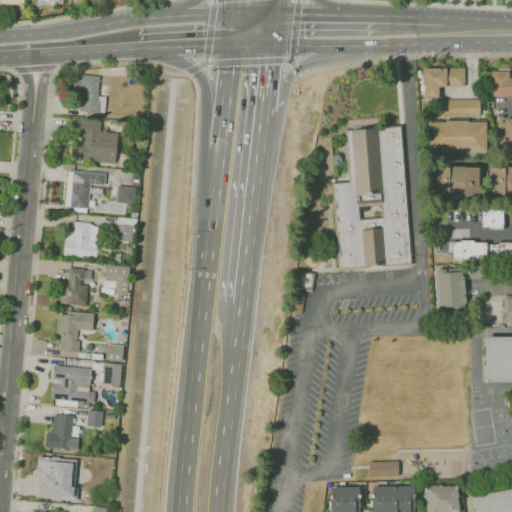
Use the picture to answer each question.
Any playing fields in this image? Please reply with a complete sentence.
Yes, you can see a playing field in this photo.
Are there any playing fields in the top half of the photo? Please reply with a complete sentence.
No, the scene shows no playing field in the top half of the photo.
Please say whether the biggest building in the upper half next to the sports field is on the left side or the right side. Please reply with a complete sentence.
It is on the right.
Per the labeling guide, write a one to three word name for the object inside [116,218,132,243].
house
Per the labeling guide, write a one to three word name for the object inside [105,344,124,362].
building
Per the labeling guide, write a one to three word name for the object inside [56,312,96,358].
house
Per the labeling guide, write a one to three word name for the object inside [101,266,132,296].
shed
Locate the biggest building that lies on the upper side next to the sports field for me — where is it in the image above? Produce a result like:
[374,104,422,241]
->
[335,126,414,269]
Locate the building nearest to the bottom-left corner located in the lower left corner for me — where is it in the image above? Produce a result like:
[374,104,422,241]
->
[36,456,80,504]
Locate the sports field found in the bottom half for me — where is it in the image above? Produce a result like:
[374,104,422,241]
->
[353,332,472,476]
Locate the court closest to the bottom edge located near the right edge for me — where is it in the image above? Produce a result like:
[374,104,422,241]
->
[473,442,512,477]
